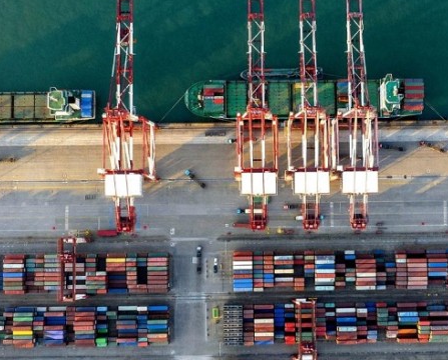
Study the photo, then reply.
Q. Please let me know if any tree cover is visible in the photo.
No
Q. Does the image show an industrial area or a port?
port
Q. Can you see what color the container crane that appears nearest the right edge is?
white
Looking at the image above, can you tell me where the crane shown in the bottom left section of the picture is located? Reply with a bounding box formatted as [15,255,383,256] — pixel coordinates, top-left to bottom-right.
[59,237,91,303]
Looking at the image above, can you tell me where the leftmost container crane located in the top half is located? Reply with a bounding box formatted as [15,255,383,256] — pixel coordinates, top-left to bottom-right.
[93,0,161,233]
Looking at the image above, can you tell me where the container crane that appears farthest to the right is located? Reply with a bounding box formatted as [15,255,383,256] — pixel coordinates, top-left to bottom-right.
[325,0,379,231]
